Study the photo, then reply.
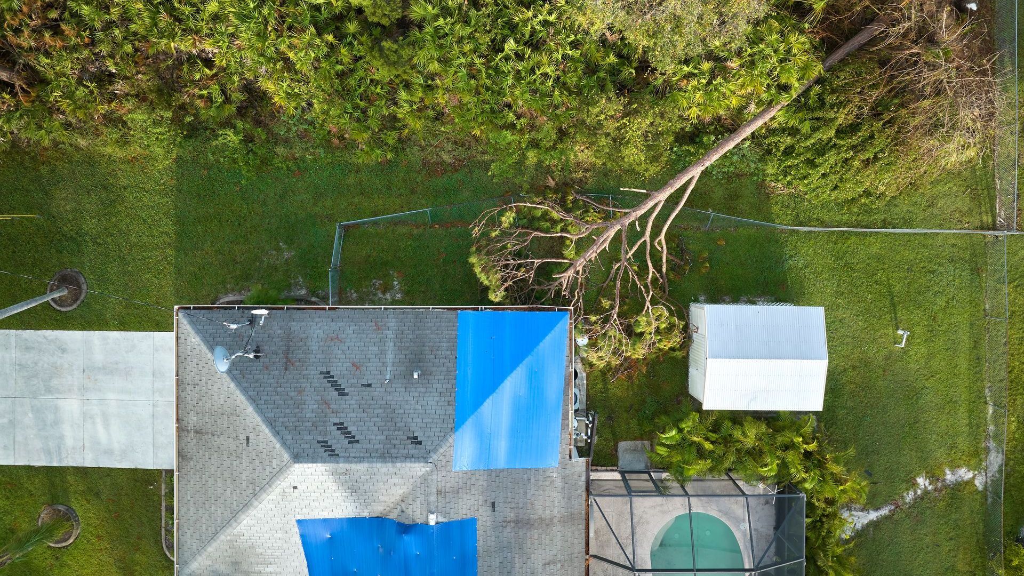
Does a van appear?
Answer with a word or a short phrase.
No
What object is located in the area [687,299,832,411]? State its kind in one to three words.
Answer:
shed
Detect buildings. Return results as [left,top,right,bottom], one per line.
[687,299,832,411]
[174,306,593,576]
